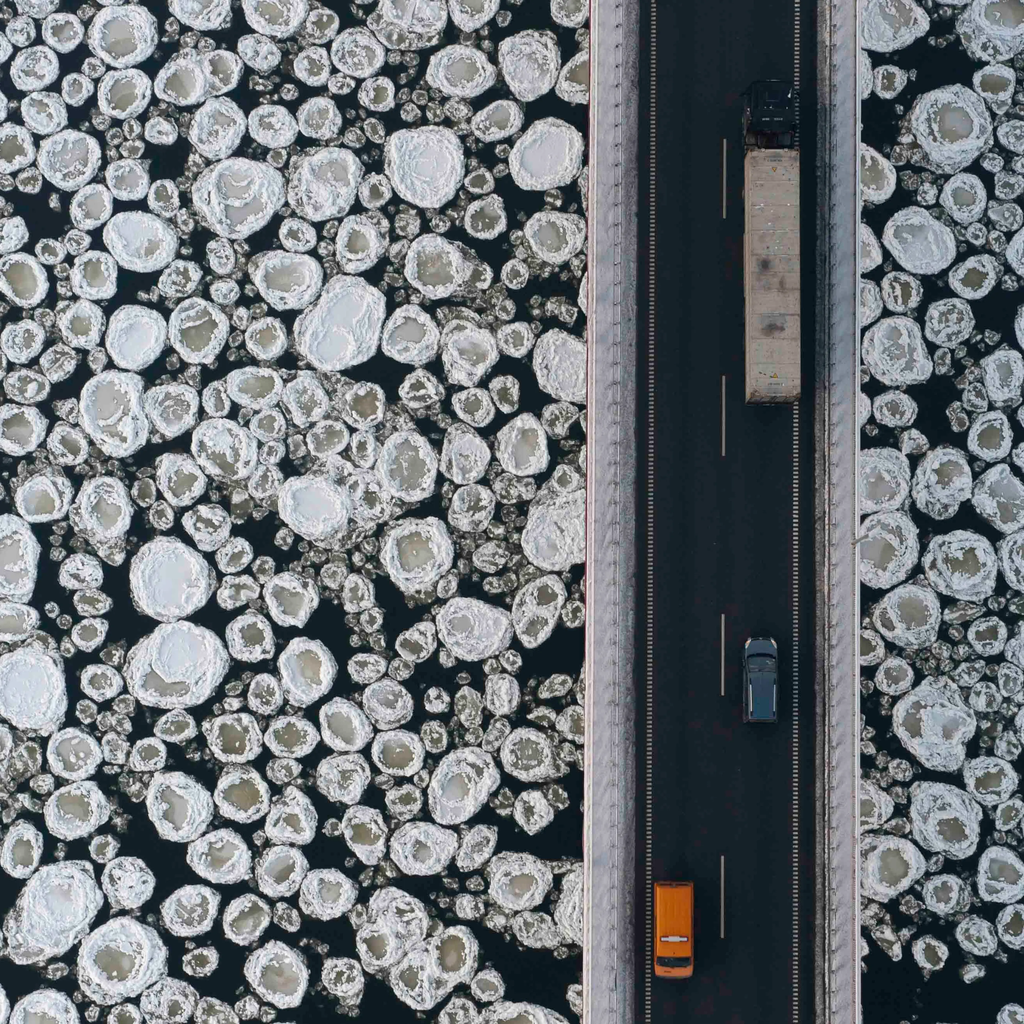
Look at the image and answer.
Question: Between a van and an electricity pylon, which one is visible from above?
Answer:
van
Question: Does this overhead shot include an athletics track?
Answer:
No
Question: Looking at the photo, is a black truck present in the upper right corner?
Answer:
Yes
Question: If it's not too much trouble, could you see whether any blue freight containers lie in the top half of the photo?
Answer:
No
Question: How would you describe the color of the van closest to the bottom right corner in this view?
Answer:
orange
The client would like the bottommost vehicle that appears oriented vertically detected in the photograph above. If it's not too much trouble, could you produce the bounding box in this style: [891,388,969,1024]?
[651,879,698,978]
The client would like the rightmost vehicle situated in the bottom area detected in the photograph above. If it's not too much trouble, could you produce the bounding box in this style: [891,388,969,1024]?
[742,637,783,723]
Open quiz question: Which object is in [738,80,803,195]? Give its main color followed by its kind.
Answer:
black truck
